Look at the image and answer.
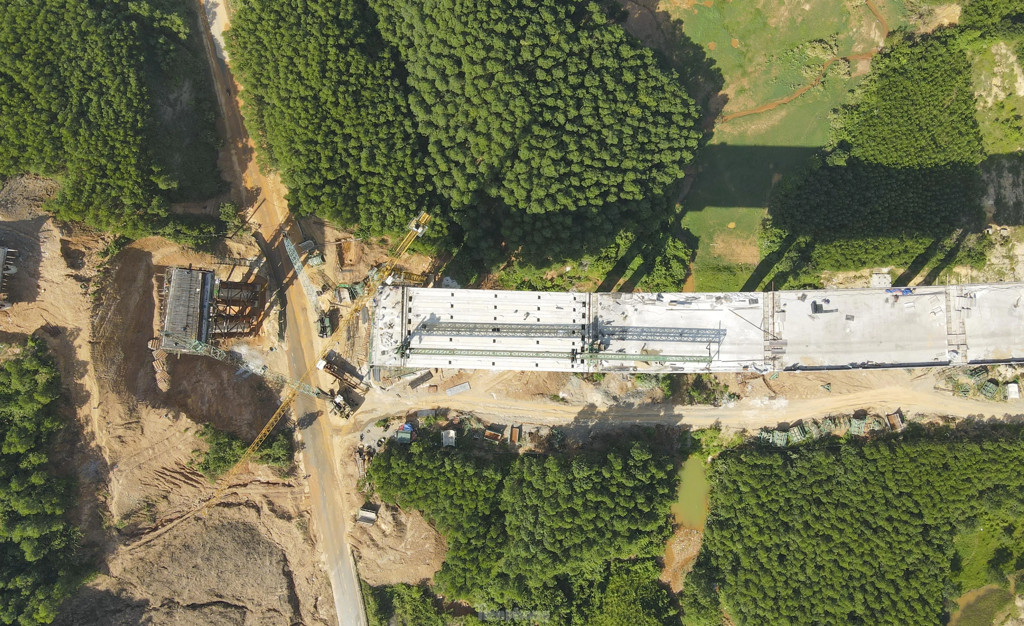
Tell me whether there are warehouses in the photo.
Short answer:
No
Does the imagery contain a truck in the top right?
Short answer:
No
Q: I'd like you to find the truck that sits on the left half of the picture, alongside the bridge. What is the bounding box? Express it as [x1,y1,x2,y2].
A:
[316,362,373,401]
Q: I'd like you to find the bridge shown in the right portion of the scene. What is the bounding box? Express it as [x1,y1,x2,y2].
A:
[371,281,1024,373]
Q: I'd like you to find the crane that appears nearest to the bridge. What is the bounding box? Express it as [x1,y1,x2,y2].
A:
[200,210,437,516]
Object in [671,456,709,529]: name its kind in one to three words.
pond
